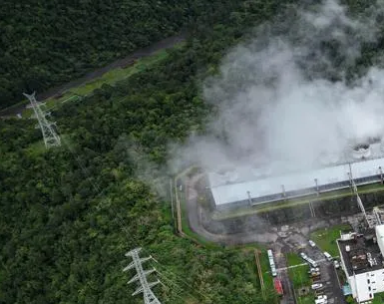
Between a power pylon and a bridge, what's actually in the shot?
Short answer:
power pylon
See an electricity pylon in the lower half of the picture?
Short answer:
Yes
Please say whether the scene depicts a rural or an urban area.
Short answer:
rural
